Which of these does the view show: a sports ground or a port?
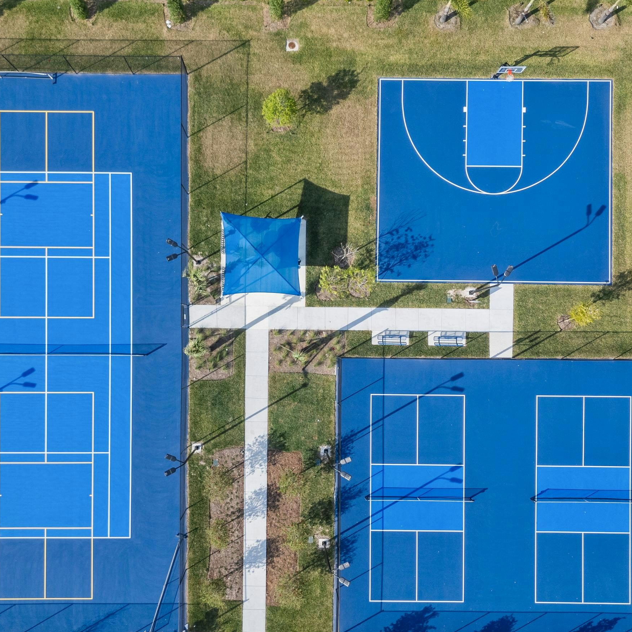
sports ground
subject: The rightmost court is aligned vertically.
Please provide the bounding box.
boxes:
[535,395,632,605]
